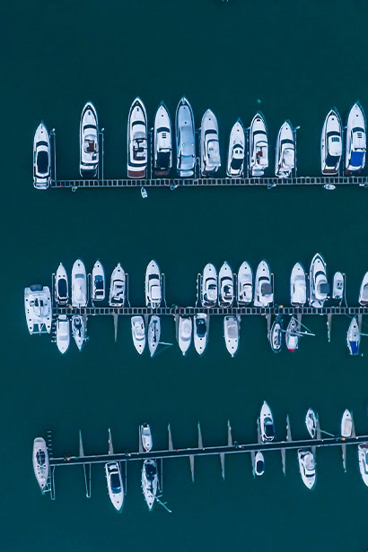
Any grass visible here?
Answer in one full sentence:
No, grass can't be seen anywhere here.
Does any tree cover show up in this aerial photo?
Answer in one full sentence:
No, tree cover can't be seen anywhere here.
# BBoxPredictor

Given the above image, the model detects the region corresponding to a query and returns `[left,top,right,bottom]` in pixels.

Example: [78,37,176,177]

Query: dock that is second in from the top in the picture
[50,273,368,342]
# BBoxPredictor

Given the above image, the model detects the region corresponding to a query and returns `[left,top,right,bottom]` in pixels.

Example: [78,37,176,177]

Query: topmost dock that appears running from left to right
[50,124,368,187]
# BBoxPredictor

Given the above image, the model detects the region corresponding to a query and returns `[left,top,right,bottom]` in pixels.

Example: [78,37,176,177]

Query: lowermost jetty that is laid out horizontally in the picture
[49,412,368,499]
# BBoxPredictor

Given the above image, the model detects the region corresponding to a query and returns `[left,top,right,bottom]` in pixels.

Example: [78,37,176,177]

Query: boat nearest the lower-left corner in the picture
[33,436,49,494]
